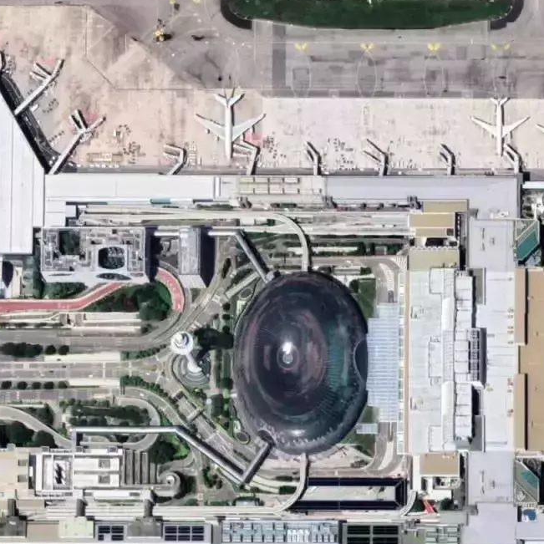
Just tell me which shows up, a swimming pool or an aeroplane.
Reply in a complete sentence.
Visible in the photo is an aeroplane.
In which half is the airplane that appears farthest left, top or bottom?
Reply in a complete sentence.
The airplane that appears farthest left sits in the top half of the picture.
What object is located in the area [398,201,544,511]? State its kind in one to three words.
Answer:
building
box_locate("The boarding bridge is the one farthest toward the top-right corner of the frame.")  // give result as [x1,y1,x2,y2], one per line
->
[502,143,520,176]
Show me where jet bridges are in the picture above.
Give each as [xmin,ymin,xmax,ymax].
[362,139,389,176]
[232,140,258,176]
[305,141,321,176]
[15,59,66,116]
[502,143,520,176]
[438,142,453,176]
[49,108,107,175]
[162,145,185,175]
